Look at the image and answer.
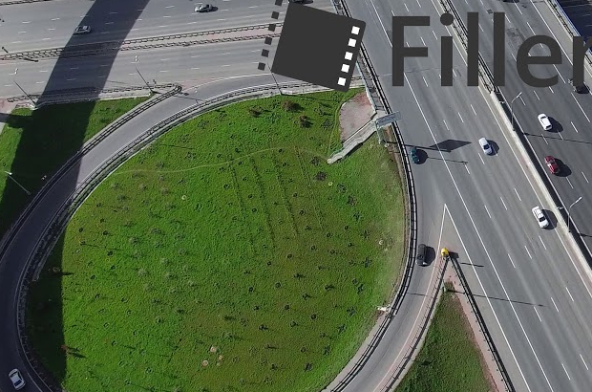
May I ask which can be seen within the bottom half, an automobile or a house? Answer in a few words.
automobile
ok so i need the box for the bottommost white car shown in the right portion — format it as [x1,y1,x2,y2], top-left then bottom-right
[531,206,549,229]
